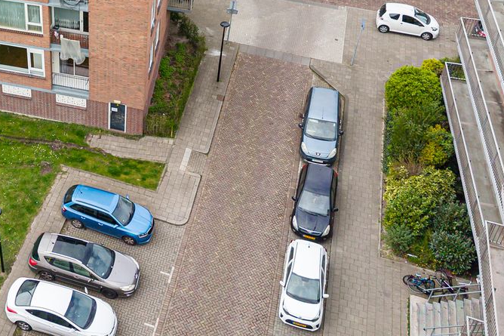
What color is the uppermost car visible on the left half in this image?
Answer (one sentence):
The uppermost car visible on the left half looks blue in the image.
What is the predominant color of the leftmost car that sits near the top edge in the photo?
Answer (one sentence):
In this view, the leftmost car that sits near the top edge is white.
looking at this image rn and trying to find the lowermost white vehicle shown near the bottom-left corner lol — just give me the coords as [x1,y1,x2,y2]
[5,276,115,336]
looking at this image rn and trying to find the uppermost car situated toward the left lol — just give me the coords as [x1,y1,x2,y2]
[64,180,155,242]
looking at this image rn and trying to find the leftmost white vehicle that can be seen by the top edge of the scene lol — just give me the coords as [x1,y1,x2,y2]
[377,0,440,40]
